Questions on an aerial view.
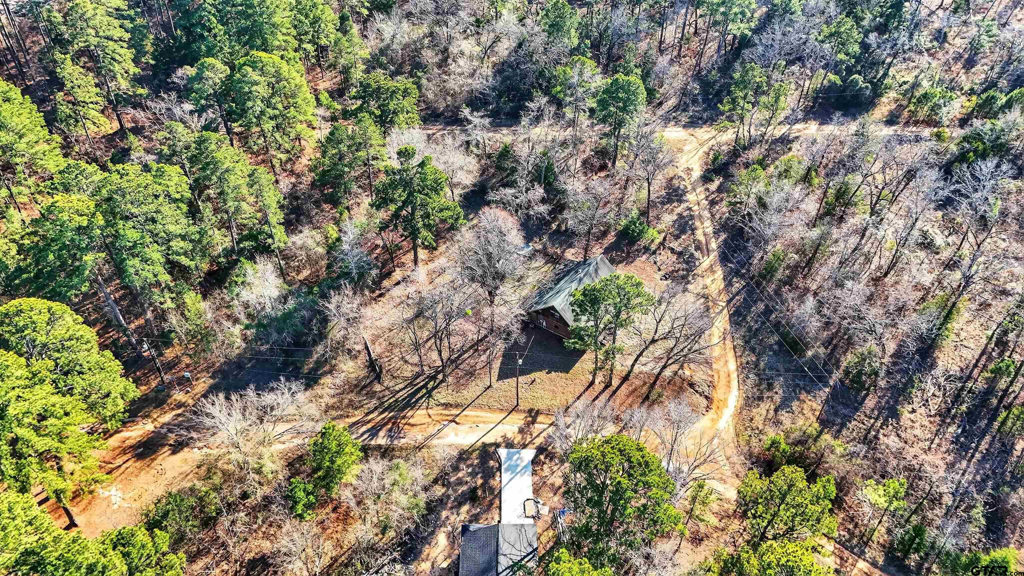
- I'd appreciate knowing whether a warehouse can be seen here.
No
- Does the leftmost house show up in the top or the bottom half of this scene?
bottom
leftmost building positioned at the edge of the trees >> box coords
[457,522,539,576]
